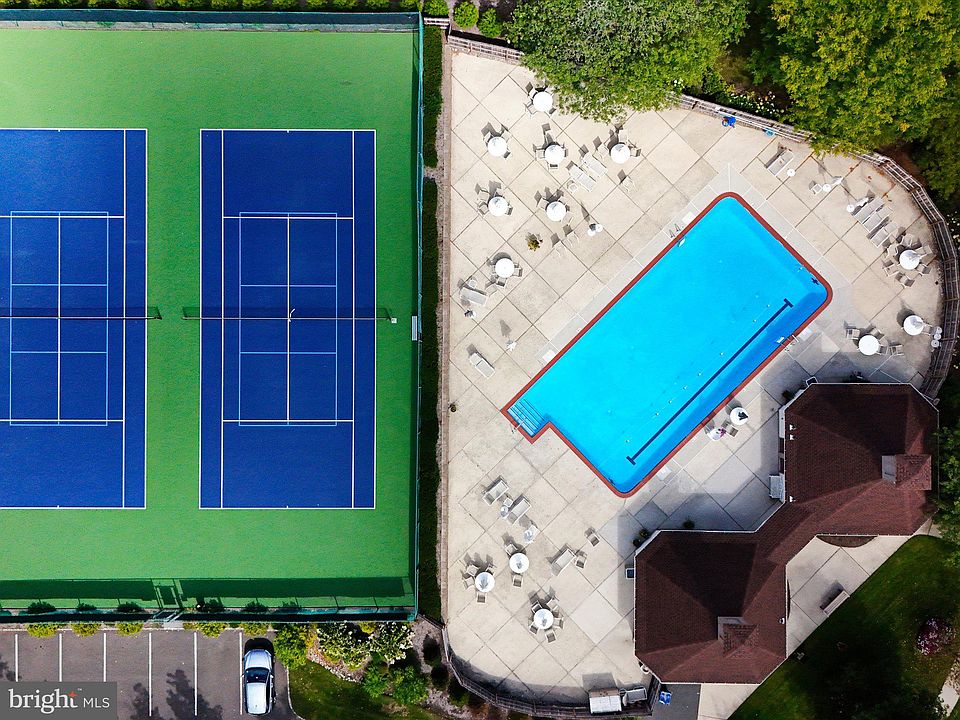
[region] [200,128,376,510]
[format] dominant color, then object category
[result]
blue tennis court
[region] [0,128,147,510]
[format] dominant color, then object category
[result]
blue tennis court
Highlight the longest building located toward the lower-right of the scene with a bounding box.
[634,383,939,683]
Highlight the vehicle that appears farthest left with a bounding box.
[239,645,276,719]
